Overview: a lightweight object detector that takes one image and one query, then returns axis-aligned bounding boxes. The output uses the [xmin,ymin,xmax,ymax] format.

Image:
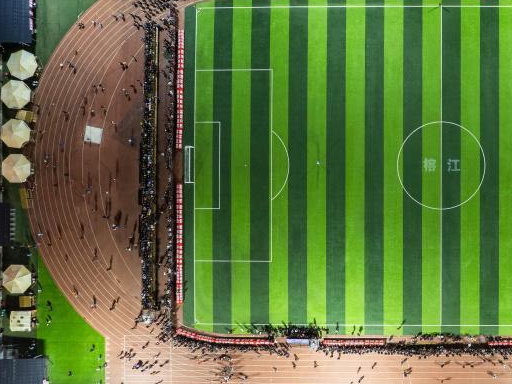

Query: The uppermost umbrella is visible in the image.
[7,49,42,80]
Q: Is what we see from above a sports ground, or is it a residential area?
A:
sports ground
